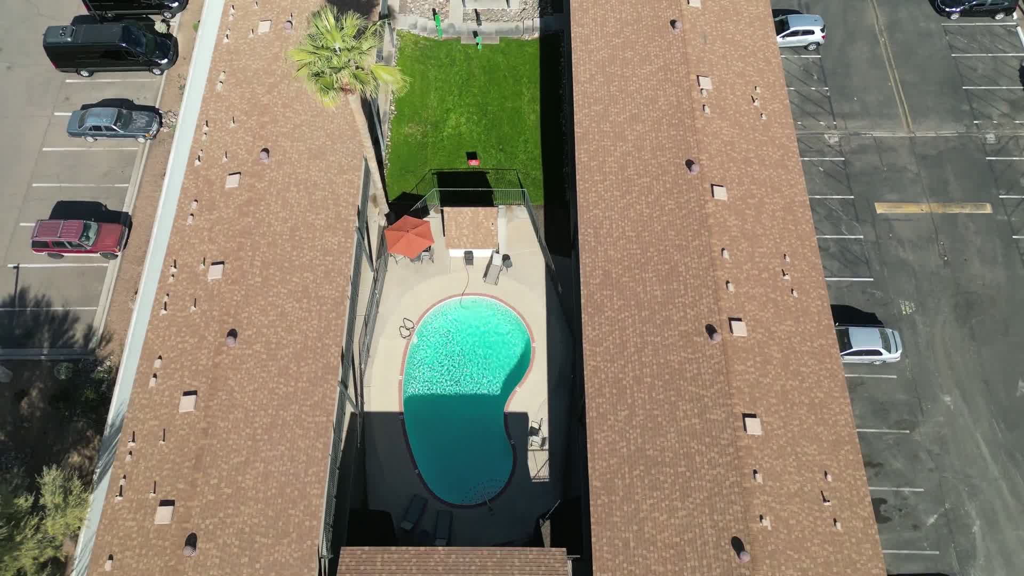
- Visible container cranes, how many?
0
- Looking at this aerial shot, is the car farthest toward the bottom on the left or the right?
right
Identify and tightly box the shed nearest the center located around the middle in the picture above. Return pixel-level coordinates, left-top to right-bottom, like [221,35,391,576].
[441,206,497,257]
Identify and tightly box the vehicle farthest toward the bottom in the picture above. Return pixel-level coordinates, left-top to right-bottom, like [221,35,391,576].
[835,321,904,365]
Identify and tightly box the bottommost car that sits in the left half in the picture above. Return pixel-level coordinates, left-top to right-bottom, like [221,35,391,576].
[26,216,128,259]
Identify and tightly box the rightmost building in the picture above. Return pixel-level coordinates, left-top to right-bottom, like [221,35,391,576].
[563,0,886,576]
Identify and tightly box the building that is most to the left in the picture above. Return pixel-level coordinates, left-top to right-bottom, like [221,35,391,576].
[61,0,395,576]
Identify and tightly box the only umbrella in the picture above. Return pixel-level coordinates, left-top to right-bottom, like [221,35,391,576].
[385,216,434,261]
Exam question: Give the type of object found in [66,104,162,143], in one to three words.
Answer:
car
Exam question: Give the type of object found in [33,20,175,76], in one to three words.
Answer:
van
